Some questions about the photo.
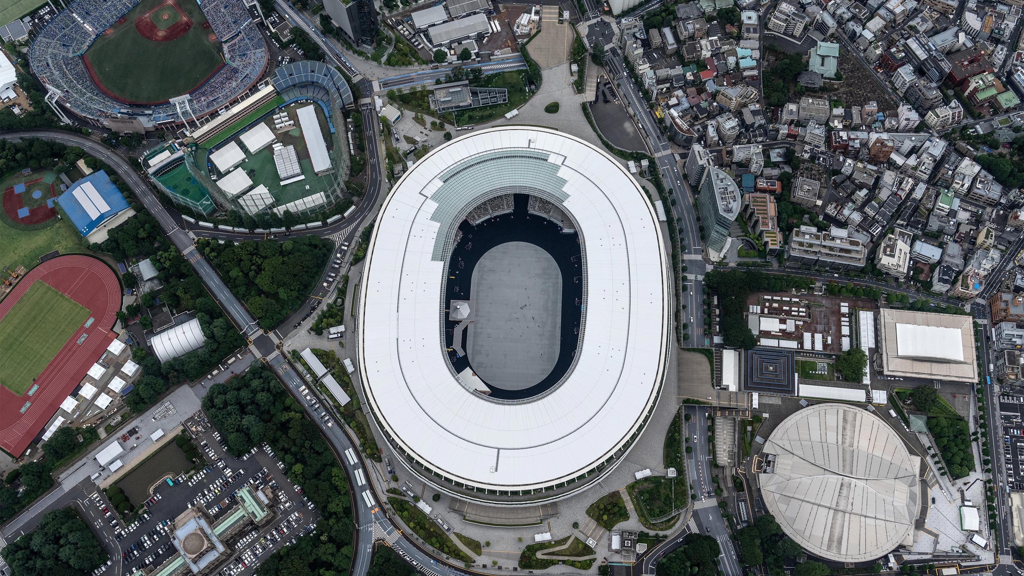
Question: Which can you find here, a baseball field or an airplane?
baseball field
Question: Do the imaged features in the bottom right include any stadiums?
Yes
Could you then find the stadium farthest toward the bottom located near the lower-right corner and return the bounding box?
[760,404,921,562]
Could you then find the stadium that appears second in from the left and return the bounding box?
[192,60,355,214]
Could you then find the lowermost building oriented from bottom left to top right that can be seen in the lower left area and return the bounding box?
[128,485,281,576]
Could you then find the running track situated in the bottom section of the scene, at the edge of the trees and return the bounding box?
[0,254,125,458]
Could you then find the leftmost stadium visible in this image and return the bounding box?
[31,0,270,131]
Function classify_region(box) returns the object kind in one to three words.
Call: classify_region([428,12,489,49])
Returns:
building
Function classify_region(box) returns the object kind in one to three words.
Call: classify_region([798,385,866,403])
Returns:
tent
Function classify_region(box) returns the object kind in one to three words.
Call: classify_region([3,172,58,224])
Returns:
baseball field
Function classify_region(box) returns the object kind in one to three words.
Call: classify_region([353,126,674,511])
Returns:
stadium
